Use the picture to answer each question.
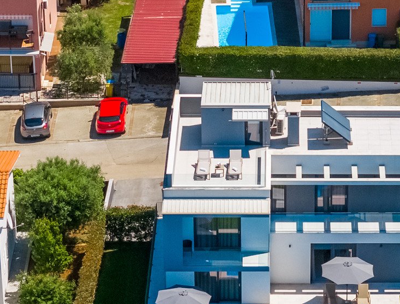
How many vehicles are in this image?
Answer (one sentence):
In total, 2 vehicles can be seen.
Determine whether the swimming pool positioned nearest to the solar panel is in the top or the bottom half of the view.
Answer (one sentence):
It is in the top half that the swimming pool positioned nearest to the solar panel appears.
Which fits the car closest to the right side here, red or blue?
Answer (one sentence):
In this view, the car closest to the right side is red.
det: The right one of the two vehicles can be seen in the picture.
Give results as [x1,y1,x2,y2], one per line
[94,96,129,132]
